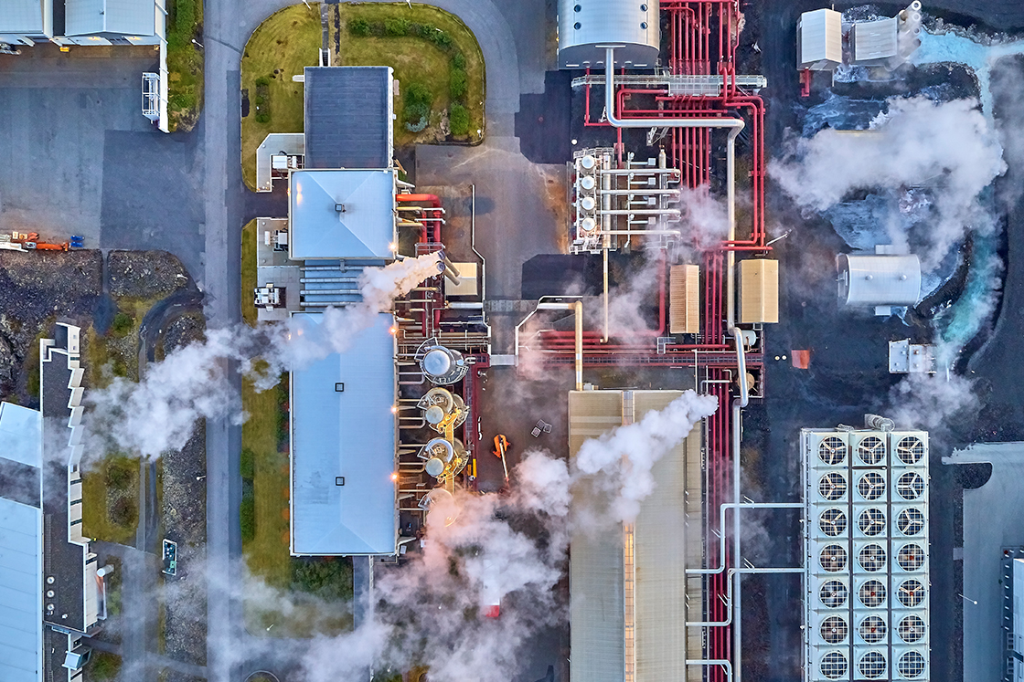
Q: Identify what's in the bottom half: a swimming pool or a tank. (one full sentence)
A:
Looking in the bottom half, you will find a tank.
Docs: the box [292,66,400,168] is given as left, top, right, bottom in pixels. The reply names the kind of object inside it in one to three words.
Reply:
building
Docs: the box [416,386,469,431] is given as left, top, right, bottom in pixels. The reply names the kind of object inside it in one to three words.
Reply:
storage tank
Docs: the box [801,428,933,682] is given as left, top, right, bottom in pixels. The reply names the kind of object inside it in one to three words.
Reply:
cooling tower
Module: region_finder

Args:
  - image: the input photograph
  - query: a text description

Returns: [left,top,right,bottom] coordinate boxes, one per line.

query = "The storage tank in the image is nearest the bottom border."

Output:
[416,481,470,532]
